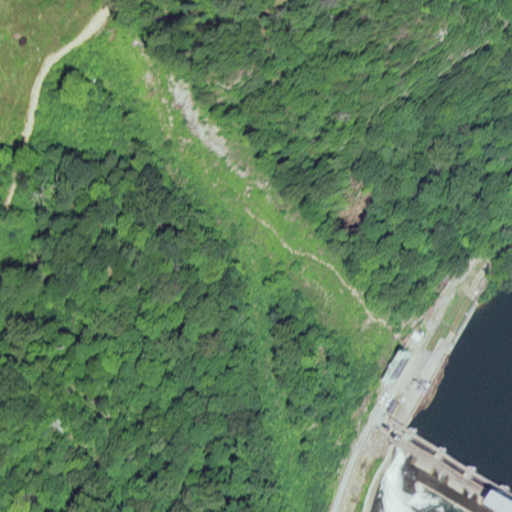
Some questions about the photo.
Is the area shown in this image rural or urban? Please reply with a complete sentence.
From above, the setting appears rural.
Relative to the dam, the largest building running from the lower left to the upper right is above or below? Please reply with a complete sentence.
You can see the largest building running from the lower left to the upper right above the dam in the frame.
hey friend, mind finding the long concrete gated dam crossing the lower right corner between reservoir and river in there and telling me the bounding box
[389,421,512,512]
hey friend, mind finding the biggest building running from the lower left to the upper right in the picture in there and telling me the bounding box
[382,350,412,387]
